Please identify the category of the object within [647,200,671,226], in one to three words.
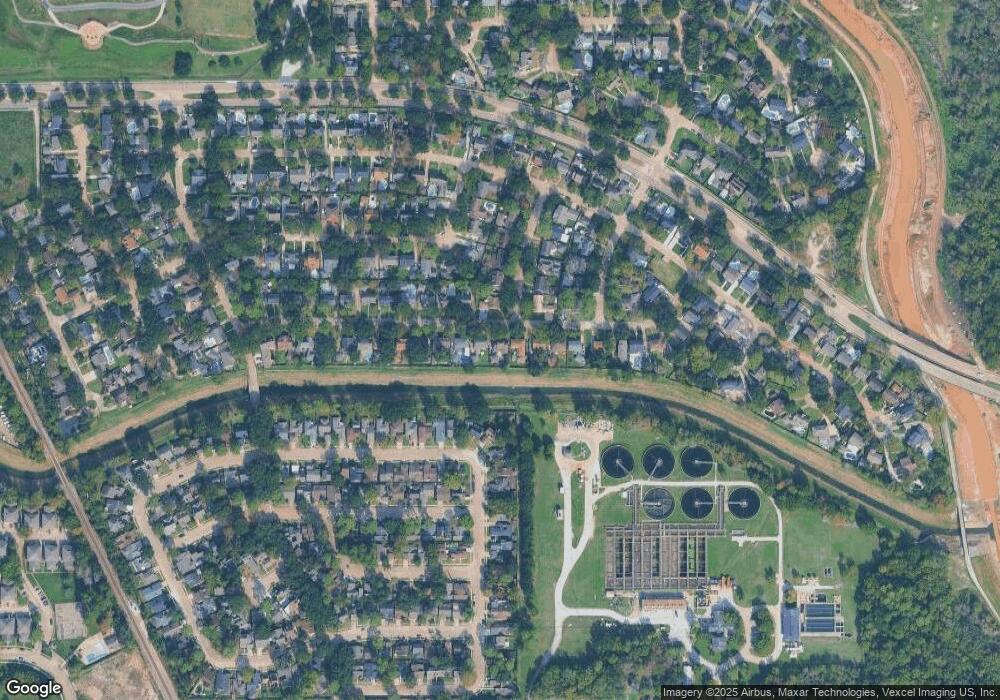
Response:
house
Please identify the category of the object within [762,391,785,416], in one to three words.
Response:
house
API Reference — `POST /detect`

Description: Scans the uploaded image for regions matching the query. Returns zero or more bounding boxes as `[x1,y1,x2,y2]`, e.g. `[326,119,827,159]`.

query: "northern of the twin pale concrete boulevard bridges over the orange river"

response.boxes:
[834,293,1000,387]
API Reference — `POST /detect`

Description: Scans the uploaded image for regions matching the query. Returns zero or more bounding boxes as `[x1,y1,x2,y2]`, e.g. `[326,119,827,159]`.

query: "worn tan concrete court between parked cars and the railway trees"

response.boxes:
[55,602,88,639]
